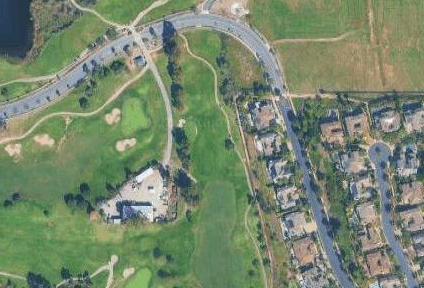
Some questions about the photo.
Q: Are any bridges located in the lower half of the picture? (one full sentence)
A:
No, the scene shows no bridge in the lower half of the picture.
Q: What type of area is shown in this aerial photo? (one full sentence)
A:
This image shows a golf course.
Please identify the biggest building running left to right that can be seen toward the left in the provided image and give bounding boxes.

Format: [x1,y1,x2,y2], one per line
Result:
[122,206,152,221]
